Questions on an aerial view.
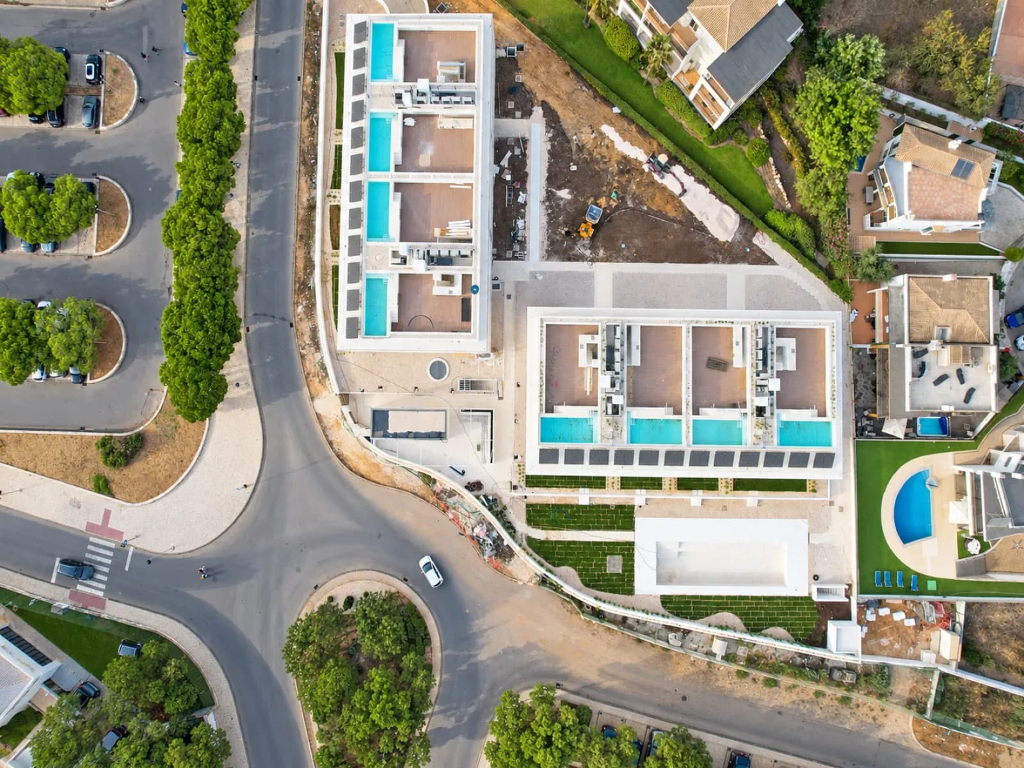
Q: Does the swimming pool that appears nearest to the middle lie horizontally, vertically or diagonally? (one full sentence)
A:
The swimming pool that appears nearest to the middle has been laid out horizontally relative to the frame.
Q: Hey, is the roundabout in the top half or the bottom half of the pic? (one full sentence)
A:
You can find the roundabout in the bottom half.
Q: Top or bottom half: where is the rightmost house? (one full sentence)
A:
It is in the bottom half that the rightmost house appears.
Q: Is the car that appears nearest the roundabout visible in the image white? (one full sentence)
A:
Yes, the car that appears nearest the roundabout is white.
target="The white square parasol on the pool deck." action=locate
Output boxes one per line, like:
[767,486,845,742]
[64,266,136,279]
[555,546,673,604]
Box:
[946,502,966,521]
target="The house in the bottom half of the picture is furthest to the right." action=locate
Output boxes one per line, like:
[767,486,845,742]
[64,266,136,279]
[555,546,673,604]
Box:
[949,424,1024,577]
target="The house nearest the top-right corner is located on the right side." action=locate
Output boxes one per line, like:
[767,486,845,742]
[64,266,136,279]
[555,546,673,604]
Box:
[857,123,1003,236]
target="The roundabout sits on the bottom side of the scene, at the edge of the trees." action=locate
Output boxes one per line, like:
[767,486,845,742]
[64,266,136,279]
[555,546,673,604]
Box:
[292,571,441,768]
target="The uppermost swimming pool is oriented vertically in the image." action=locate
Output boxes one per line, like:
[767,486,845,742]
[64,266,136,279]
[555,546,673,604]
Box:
[371,26,394,81]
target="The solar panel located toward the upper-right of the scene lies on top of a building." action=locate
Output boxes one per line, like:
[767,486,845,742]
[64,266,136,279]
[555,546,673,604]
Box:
[951,159,975,179]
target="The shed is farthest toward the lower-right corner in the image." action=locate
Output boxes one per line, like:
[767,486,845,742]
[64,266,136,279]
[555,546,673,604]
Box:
[923,624,960,662]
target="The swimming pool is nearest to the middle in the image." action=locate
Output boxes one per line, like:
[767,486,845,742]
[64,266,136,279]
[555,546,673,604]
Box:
[541,417,597,443]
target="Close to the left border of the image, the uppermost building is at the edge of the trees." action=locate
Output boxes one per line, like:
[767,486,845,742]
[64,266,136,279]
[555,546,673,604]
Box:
[0,598,82,720]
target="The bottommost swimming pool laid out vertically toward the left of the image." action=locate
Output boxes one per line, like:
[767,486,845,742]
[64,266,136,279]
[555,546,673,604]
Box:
[366,274,388,336]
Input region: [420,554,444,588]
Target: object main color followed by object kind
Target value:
white car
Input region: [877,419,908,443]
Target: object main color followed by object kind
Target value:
white umbrella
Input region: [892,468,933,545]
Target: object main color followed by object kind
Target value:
blue swimming pool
